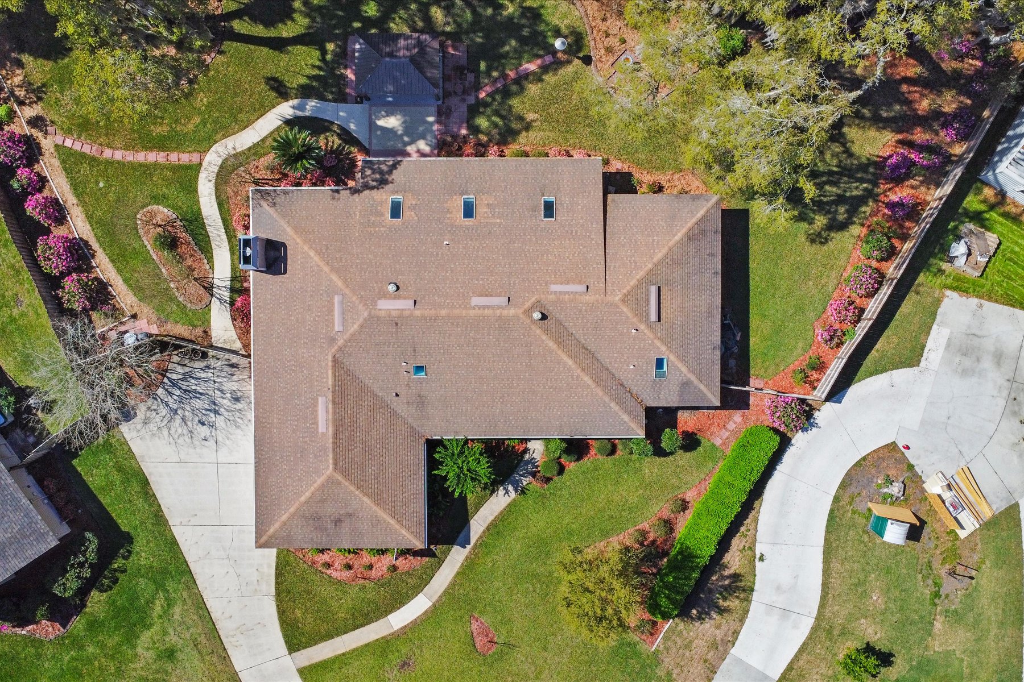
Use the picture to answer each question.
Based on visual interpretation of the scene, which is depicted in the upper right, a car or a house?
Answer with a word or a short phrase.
house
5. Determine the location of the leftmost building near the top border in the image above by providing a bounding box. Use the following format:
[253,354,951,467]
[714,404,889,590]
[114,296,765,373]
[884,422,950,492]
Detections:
[355,32,443,104]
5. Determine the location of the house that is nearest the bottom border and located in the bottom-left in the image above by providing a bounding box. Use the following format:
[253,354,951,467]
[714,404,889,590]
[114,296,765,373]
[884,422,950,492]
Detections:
[0,438,70,582]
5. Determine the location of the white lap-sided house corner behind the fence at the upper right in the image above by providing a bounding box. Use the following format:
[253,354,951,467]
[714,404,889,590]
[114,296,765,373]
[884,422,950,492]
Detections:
[979,110,1024,206]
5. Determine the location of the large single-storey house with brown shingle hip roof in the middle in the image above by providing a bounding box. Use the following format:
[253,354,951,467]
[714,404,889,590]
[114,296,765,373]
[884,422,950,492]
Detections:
[232,155,721,565]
